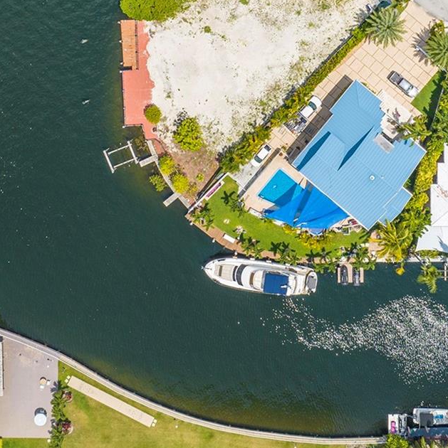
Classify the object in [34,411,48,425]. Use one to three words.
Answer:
umbrella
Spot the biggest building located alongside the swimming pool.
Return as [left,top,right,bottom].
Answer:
[292,80,425,229]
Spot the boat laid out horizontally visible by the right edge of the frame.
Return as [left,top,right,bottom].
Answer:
[409,408,448,426]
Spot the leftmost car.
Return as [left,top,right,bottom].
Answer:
[249,142,273,168]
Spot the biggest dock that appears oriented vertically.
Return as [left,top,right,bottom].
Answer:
[118,20,137,70]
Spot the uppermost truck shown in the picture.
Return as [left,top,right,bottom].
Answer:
[387,70,419,98]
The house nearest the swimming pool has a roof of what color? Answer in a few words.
blue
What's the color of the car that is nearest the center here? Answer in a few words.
white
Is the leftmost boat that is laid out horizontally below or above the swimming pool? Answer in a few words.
below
